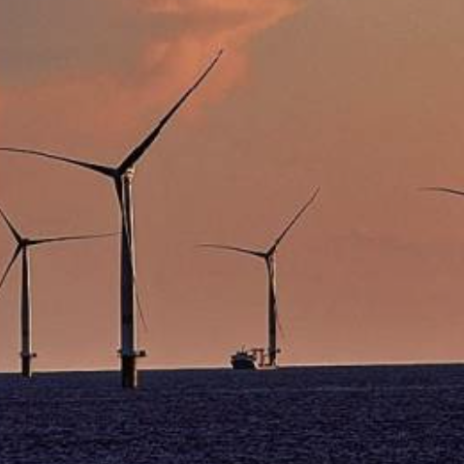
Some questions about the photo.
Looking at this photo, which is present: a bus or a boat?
boat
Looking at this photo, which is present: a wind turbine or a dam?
wind turbine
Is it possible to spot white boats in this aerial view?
No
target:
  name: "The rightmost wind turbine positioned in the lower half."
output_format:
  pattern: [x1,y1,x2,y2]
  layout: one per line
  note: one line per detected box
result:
[203,189,319,369]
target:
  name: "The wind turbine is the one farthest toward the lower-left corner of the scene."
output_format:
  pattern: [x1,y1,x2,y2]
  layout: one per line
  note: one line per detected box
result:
[0,204,115,375]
